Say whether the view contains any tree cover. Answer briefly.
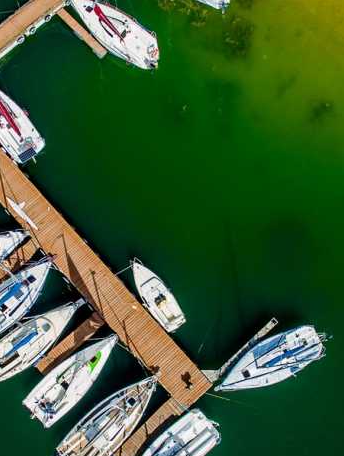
No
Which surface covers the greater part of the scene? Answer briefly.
water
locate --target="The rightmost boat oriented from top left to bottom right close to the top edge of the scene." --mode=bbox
[71,0,162,78]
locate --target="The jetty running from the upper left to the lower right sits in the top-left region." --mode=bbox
[57,6,107,60]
